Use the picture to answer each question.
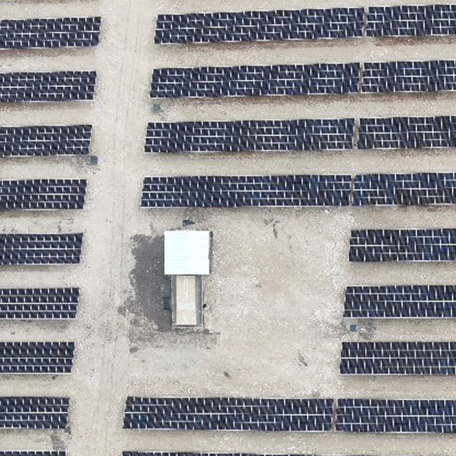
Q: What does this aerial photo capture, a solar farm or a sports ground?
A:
solar farm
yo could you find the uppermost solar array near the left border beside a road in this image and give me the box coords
[0,16,102,49]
